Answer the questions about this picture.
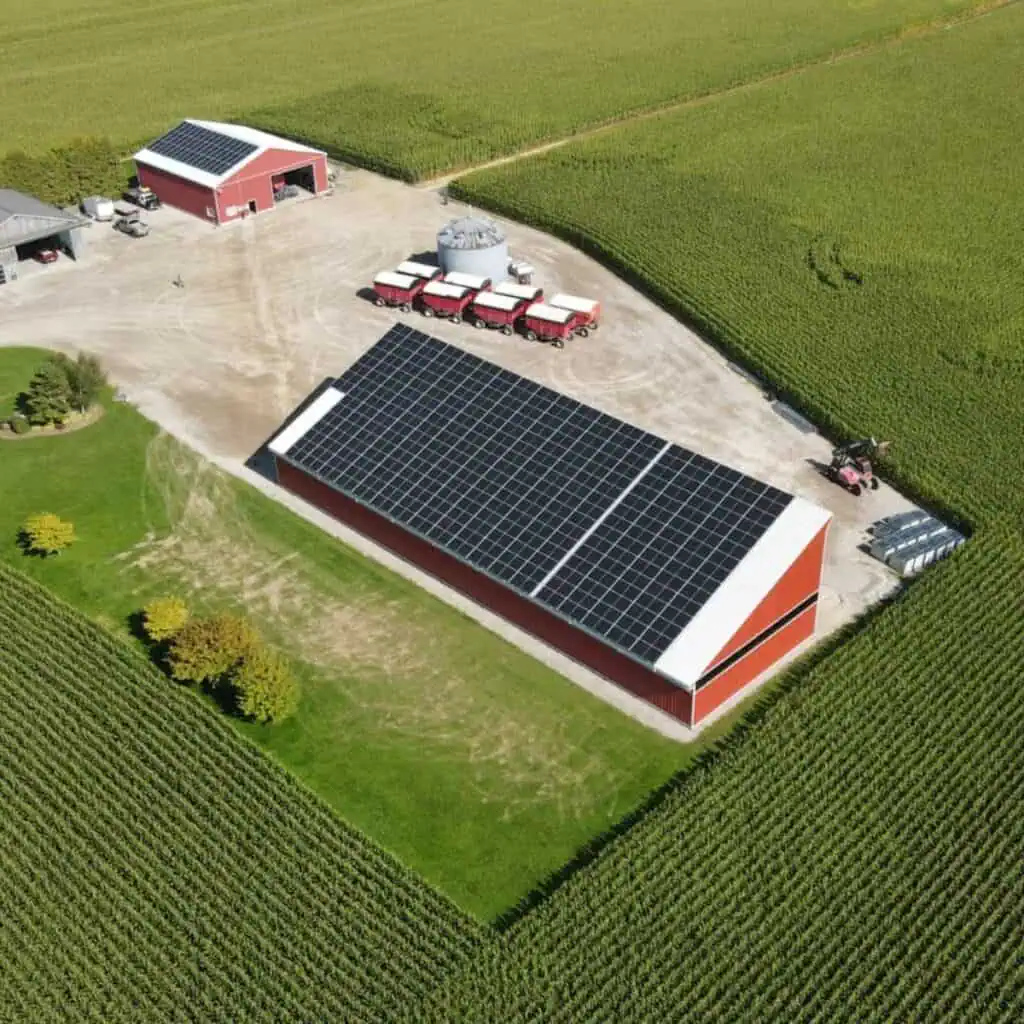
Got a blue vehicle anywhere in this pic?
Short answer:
No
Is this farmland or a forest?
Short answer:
farmland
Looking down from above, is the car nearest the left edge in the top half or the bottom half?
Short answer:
top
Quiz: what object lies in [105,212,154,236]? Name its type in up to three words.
truck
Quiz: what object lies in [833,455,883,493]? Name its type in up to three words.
work vehicle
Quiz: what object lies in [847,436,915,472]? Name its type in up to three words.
work vehicle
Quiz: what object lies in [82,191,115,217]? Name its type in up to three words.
trailer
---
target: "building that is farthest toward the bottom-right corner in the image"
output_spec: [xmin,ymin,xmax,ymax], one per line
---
[268,322,834,730]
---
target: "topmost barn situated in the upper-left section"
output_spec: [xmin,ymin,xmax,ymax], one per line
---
[131,117,330,225]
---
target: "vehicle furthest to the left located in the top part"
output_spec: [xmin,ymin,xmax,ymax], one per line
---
[19,245,59,267]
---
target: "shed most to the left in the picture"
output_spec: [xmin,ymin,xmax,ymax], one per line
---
[0,183,93,282]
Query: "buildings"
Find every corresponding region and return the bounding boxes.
[131,117,330,225]
[0,183,93,282]
[268,322,834,730]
